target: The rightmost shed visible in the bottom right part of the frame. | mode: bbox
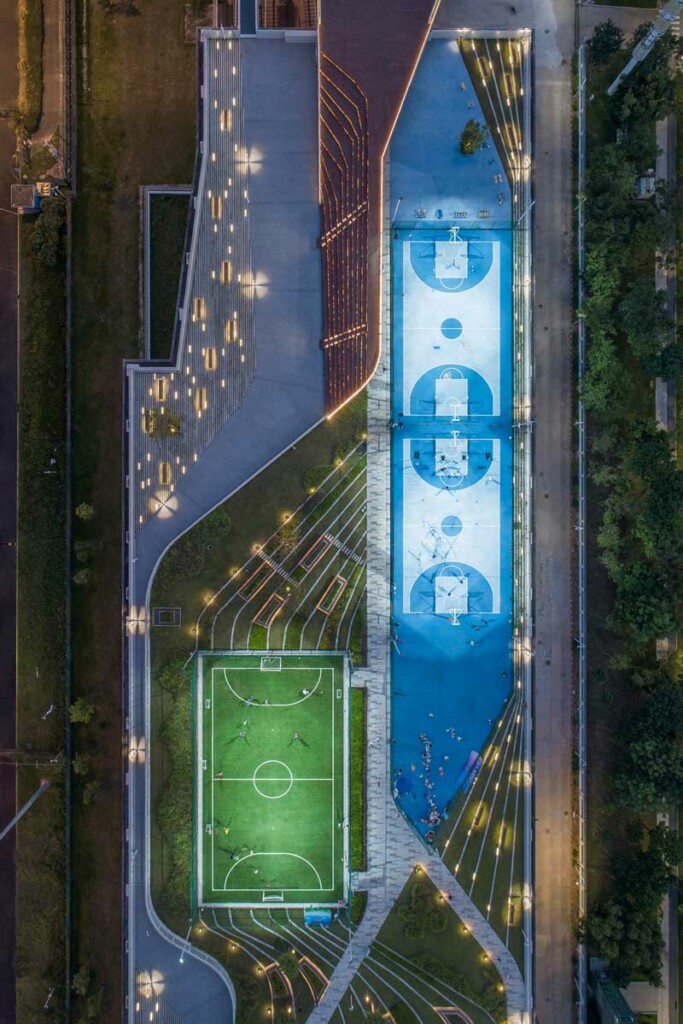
[586,949,640,1024]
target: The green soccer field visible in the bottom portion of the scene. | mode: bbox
[196,650,351,909]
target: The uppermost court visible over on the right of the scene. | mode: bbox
[401,241,502,416]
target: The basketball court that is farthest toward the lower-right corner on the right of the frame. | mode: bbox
[403,438,501,614]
